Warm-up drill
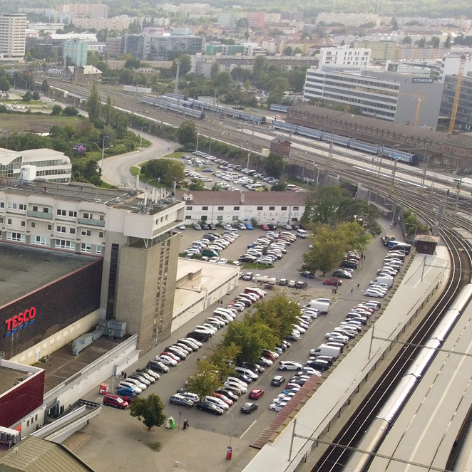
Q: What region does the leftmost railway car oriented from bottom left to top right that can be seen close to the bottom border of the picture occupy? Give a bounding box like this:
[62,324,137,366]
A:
[340,419,391,472]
